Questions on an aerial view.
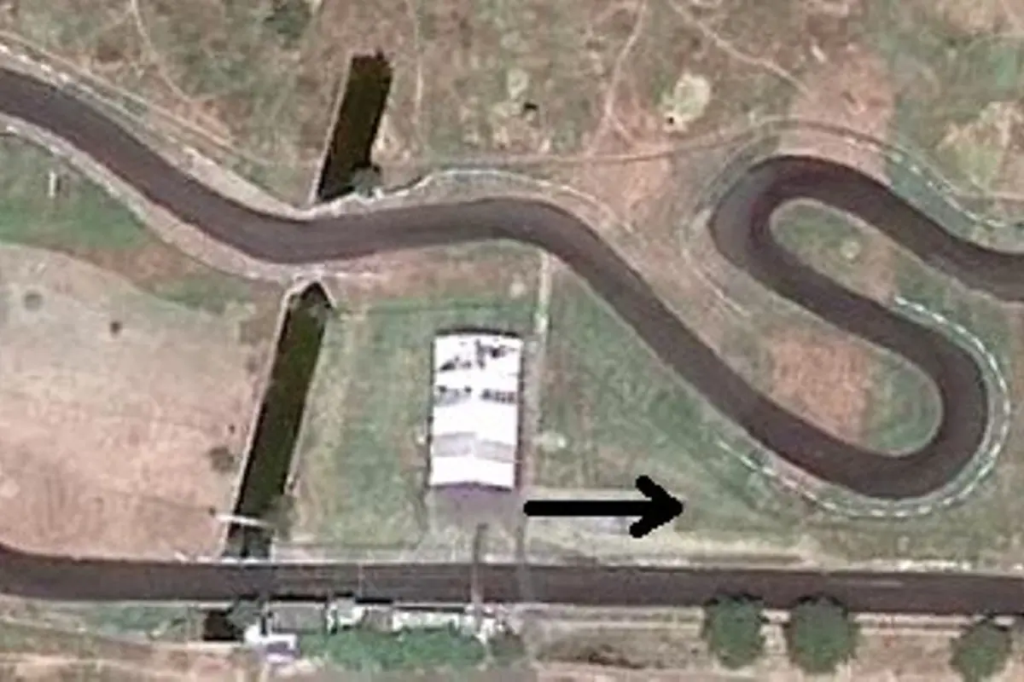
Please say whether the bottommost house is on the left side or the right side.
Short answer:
left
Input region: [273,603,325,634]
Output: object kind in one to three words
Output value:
shed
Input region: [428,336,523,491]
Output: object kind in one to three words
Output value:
building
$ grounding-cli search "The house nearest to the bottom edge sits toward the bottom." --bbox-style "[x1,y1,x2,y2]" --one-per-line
[257,634,298,663]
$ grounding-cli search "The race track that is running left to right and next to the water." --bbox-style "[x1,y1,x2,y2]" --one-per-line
[0,66,1024,499]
